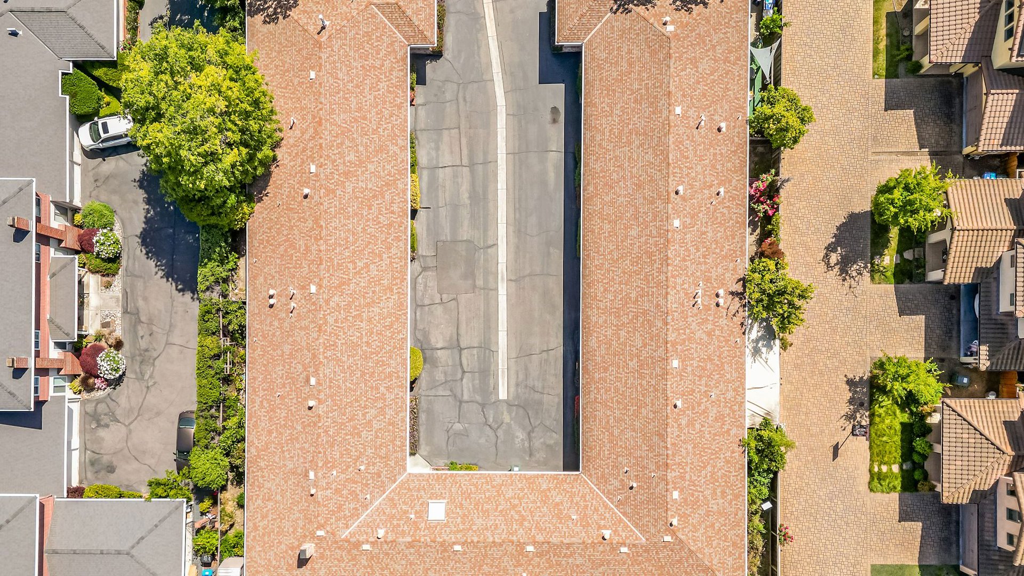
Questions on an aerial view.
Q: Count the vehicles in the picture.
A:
2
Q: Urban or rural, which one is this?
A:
urban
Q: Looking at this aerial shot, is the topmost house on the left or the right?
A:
right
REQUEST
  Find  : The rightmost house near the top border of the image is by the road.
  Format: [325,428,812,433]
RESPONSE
[913,0,1024,155]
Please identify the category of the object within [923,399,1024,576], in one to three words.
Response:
house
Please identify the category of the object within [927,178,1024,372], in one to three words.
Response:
house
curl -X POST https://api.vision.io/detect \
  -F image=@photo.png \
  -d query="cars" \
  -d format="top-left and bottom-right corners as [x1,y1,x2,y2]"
[79,114,138,150]
[170,410,198,471]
